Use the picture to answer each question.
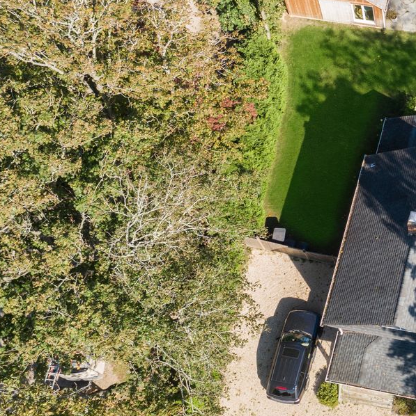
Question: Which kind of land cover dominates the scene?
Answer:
trees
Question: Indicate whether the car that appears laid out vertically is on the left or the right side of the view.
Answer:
right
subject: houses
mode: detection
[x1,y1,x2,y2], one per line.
[321,115,416,400]
[286,0,390,28]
